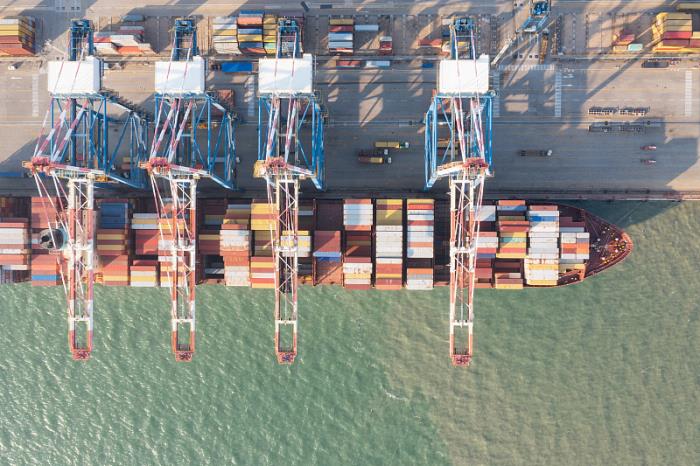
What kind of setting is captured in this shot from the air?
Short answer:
port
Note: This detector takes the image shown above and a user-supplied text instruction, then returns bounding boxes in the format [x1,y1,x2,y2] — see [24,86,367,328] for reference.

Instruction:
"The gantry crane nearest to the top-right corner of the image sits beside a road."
[518,0,554,35]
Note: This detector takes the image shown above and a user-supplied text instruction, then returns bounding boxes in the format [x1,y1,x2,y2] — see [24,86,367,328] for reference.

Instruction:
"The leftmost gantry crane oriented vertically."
[20,18,150,363]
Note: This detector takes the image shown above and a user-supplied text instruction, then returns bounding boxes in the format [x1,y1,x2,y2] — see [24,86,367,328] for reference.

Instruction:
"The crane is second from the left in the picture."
[139,18,239,363]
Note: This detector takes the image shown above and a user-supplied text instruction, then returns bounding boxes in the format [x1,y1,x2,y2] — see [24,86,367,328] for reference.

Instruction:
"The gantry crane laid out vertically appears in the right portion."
[416,18,494,363]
